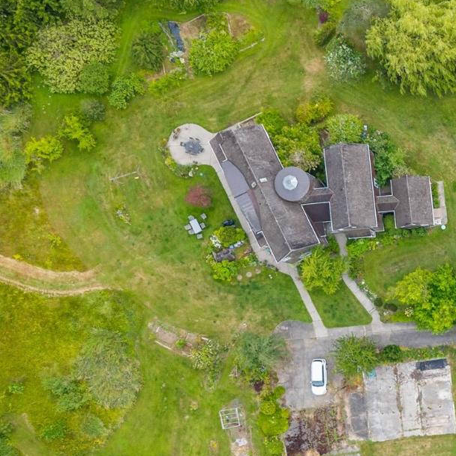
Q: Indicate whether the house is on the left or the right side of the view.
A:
right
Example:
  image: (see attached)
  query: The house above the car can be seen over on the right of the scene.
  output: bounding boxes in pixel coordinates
[209,114,435,263]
